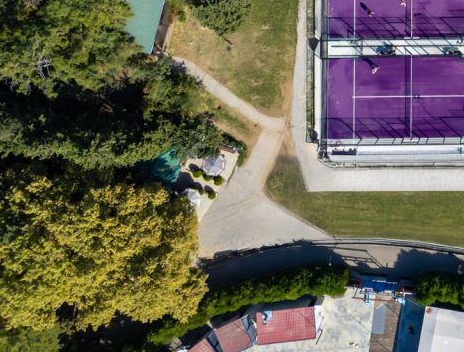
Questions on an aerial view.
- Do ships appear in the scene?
No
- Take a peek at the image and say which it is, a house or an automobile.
house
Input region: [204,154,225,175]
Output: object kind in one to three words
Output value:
gazebo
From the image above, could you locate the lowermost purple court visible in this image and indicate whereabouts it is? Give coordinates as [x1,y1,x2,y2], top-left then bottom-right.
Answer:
[321,54,464,144]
